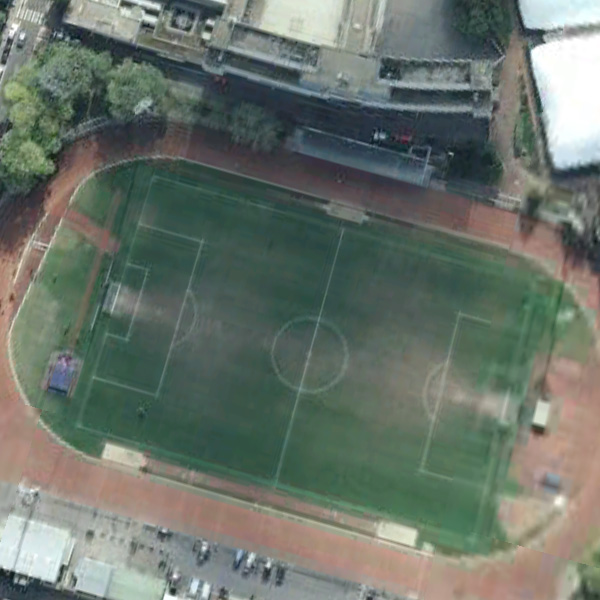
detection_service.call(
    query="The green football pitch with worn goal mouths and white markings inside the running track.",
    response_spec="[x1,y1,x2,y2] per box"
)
[63,155,562,551]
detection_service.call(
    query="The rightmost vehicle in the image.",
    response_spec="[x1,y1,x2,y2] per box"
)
[393,131,415,144]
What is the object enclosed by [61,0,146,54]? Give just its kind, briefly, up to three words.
building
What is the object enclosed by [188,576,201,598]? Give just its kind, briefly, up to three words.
vehicle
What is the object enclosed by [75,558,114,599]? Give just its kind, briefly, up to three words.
shed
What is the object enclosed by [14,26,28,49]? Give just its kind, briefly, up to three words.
vehicle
